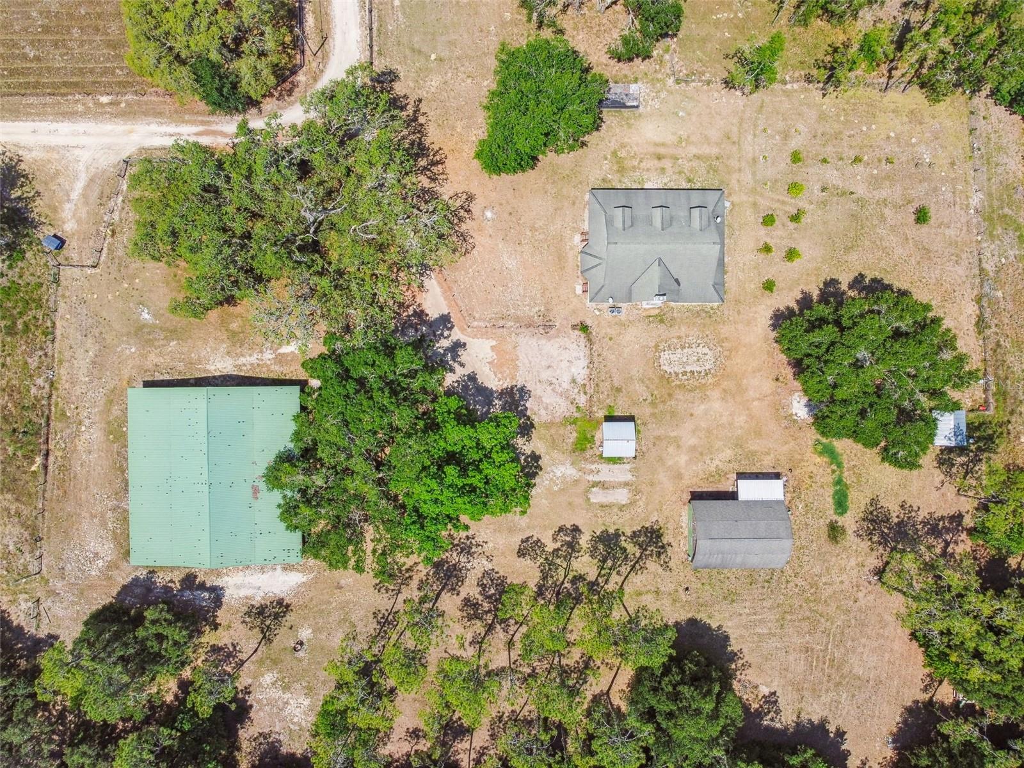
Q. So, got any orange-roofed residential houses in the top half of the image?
No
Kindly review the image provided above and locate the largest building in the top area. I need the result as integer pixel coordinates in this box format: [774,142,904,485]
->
[580,189,725,309]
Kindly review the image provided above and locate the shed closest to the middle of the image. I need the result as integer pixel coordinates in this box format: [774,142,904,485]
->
[602,422,636,457]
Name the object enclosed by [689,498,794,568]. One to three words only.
barn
